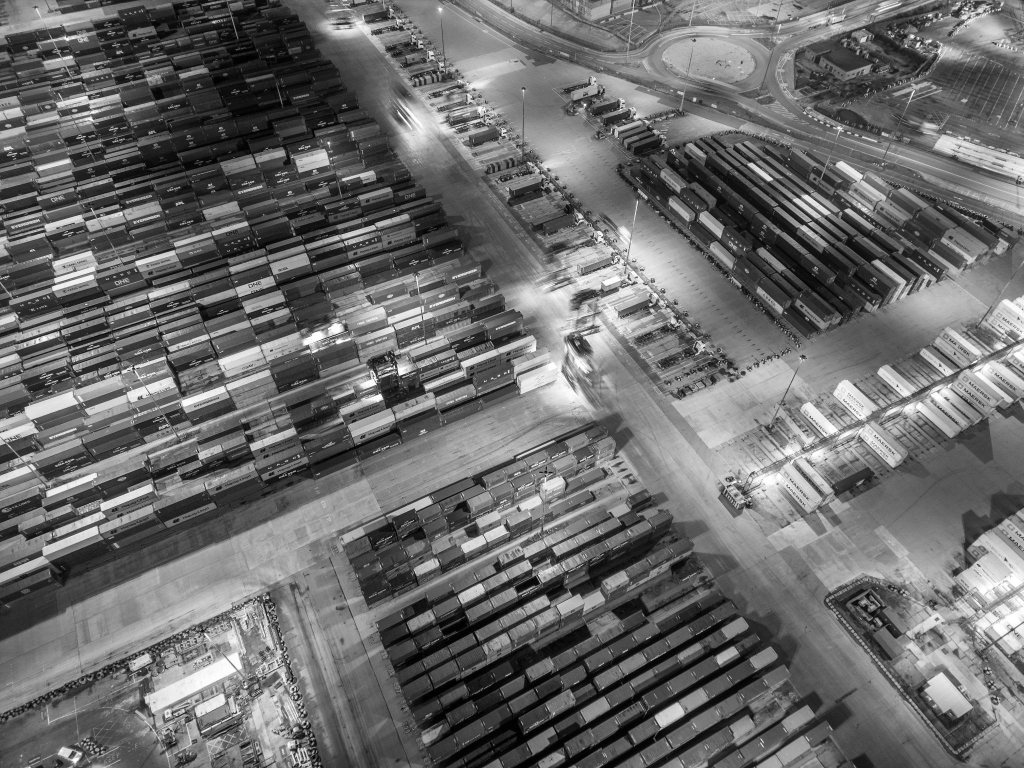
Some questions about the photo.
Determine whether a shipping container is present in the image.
Yes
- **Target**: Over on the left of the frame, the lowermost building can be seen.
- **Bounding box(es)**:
[196,694,235,735]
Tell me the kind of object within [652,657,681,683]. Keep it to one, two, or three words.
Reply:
shipping container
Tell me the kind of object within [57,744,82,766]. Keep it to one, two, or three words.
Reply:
car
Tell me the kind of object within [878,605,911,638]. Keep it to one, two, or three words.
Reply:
building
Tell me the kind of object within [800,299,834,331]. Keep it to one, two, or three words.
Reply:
shipping container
